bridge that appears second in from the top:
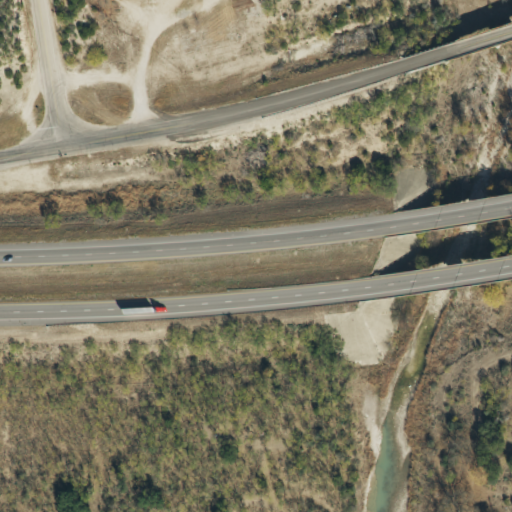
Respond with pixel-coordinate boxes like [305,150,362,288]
[389,193,512,238]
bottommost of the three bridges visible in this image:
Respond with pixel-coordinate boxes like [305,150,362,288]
[366,254,512,301]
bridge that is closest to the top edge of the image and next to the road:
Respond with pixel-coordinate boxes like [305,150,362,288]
[405,21,512,72]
